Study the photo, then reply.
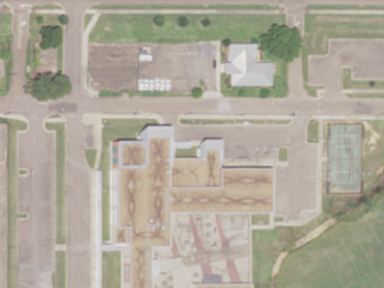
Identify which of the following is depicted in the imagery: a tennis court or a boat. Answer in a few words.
tennis court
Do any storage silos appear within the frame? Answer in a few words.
No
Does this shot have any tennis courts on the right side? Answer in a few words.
Yes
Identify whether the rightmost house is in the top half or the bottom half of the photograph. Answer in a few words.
top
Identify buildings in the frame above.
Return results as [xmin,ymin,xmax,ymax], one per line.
[108,125,275,288]
[224,43,275,86]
